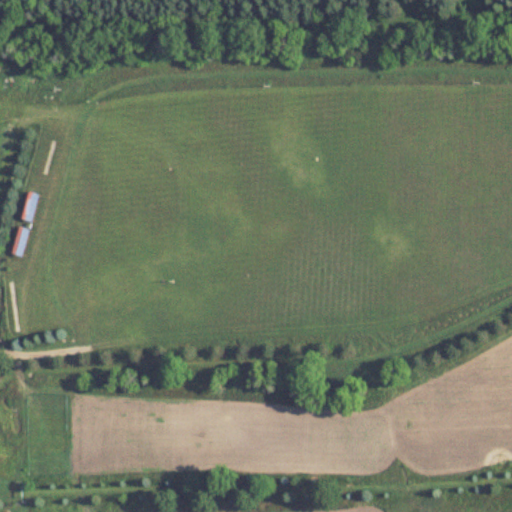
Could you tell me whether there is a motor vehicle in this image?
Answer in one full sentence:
No, this view has no motor vehicle in it.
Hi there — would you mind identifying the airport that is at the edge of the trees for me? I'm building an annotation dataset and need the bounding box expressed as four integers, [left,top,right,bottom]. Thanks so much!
[7,84,512,346]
